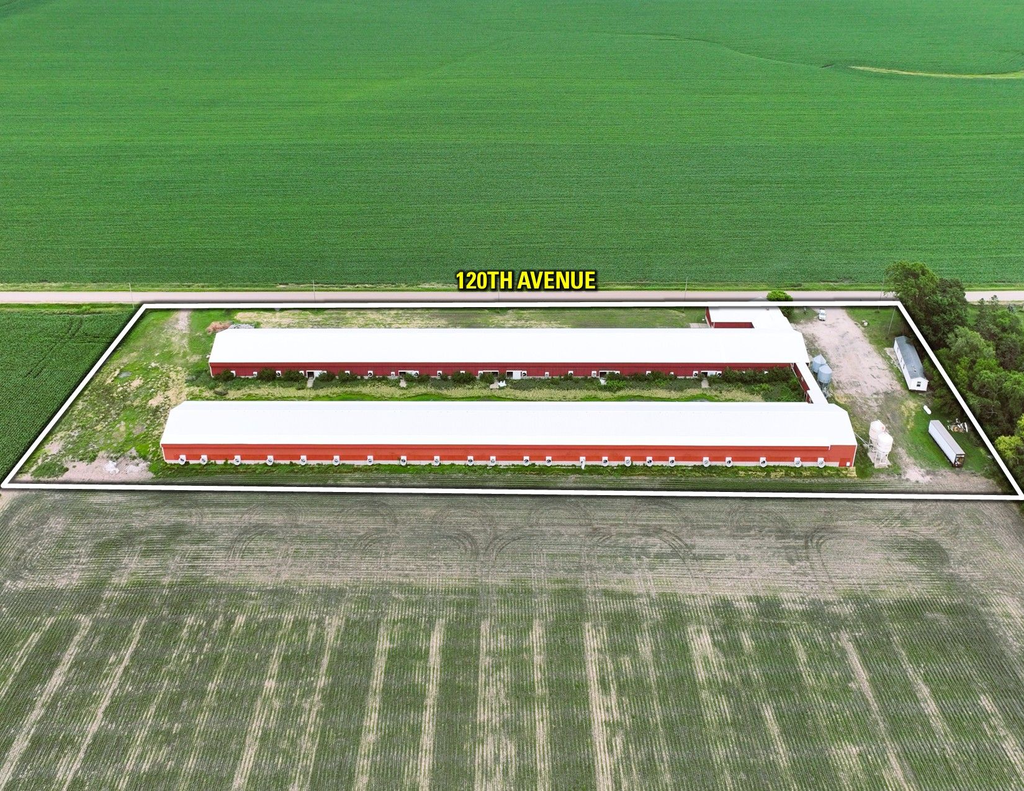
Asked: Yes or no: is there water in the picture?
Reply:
No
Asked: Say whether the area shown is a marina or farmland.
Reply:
farmland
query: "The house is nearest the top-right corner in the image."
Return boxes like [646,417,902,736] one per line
[896,340,930,390]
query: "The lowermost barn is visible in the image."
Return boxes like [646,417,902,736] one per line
[160,401,858,468]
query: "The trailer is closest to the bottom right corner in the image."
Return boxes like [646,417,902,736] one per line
[928,420,965,465]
